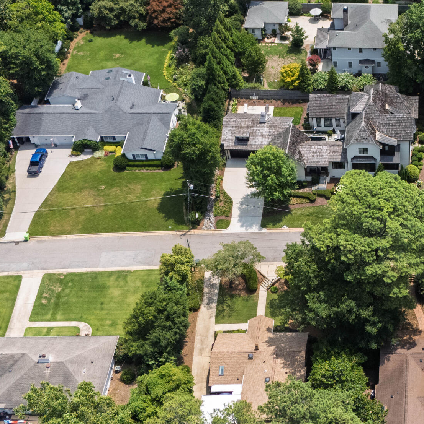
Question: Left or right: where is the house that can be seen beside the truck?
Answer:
left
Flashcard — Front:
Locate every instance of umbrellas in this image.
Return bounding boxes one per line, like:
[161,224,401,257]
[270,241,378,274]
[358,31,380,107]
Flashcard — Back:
[165,93,179,103]
[308,8,323,16]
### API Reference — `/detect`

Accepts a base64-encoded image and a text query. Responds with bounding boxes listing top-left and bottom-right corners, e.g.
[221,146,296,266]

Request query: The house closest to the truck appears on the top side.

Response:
[12,66,177,162]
